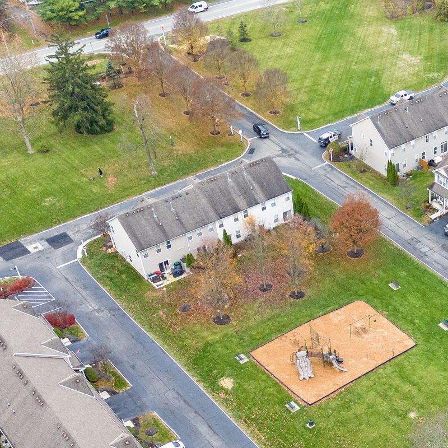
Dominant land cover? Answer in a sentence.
The bulk of the photo consists of grass.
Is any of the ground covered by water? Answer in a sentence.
No, the scene doesn't show any water.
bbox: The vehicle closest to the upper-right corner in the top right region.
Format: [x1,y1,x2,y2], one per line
[389,90,416,104]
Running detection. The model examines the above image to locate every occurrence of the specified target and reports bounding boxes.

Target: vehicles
[93,29,114,39]
[188,0,208,12]
[316,130,339,146]
[251,123,271,138]
[440,222,448,235]
[161,438,189,448]
[389,90,416,104]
